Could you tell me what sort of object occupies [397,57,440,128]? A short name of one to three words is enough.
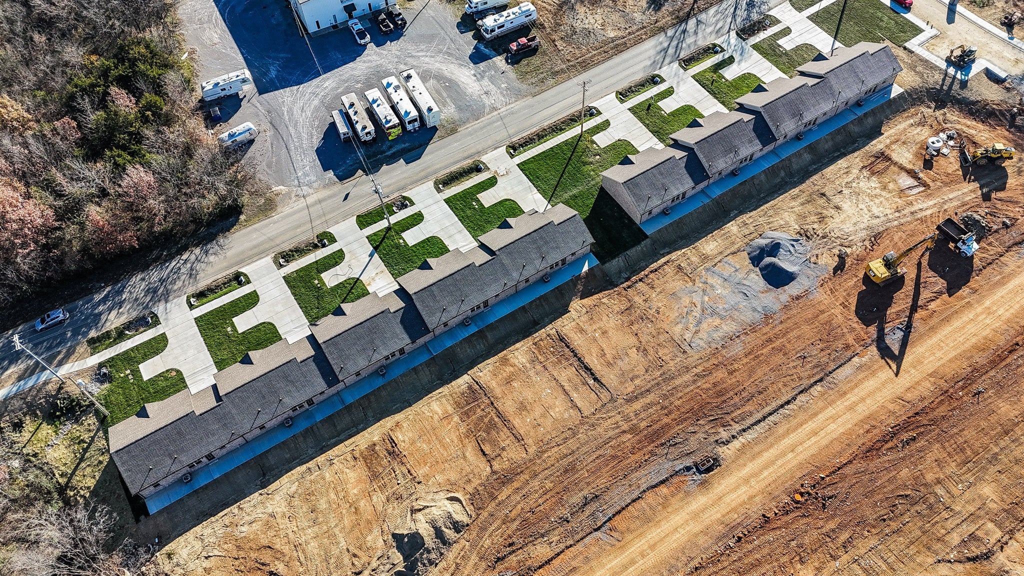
trailer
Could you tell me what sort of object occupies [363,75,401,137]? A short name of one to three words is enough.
camper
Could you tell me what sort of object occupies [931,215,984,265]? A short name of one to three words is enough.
truck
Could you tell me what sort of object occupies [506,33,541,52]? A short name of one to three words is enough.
vehicle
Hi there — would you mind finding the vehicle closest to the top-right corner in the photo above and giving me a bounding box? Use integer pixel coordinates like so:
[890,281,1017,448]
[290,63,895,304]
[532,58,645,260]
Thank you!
[1005,10,1023,27]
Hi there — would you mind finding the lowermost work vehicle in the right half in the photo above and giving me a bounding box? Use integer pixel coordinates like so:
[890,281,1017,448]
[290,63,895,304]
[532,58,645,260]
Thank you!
[862,242,944,293]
